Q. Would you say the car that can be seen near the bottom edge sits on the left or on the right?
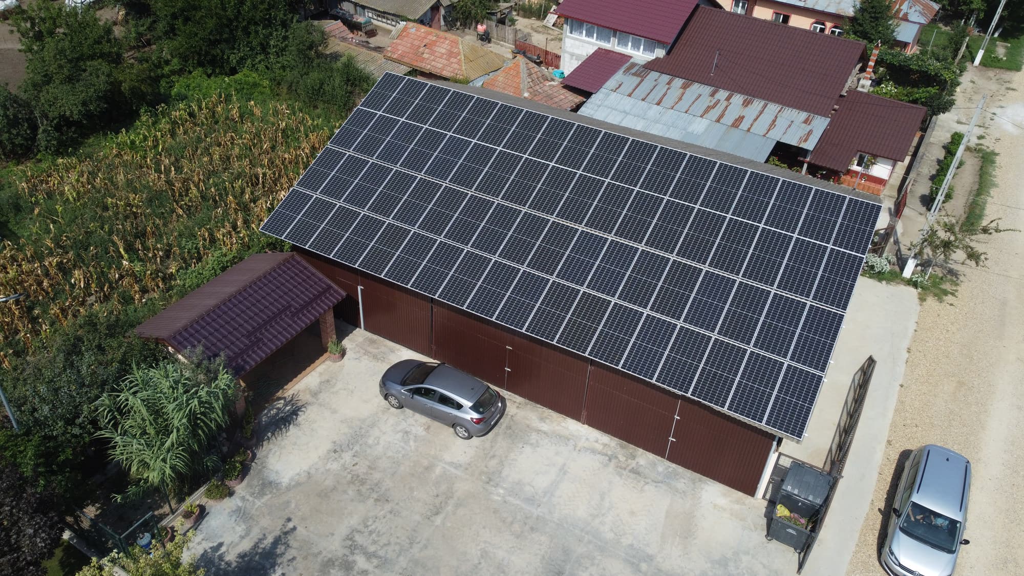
right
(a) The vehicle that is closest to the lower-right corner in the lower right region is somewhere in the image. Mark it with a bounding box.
[879,451,970,576]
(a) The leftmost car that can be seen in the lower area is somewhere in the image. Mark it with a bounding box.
[383,358,506,440]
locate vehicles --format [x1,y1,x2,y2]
[383,358,506,440]
[879,451,970,576]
